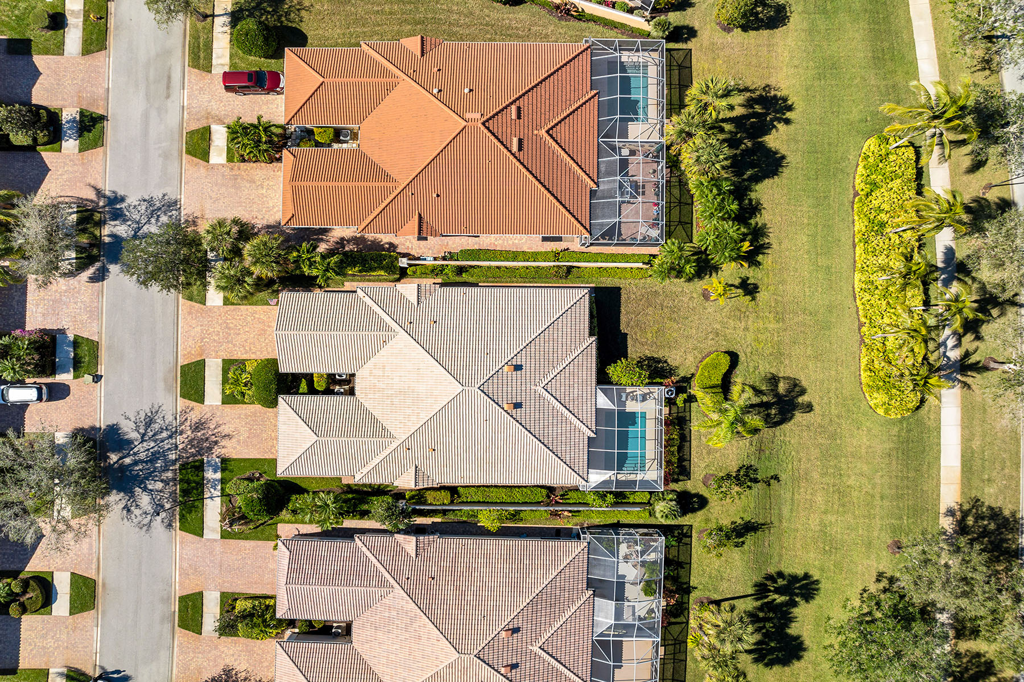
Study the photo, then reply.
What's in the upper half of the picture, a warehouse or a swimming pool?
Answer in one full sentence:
The feature located in the upper half of the picture is a swimming pool.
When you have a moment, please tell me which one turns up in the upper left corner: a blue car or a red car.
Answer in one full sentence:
Visible in the upper left corner is a red car.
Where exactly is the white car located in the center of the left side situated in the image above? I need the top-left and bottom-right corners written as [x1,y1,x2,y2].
[0,383,50,409]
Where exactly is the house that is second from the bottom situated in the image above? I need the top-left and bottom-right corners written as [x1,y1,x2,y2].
[271,284,596,489]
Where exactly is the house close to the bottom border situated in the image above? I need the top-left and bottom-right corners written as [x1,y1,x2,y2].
[276,534,598,682]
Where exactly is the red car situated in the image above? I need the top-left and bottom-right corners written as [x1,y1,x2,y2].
[228,70,283,99]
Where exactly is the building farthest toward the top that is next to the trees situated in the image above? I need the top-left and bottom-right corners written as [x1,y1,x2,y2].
[281,35,599,237]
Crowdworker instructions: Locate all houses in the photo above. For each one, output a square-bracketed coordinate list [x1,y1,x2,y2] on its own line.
[271,284,596,489]
[276,534,598,682]
[281,35,599,237]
